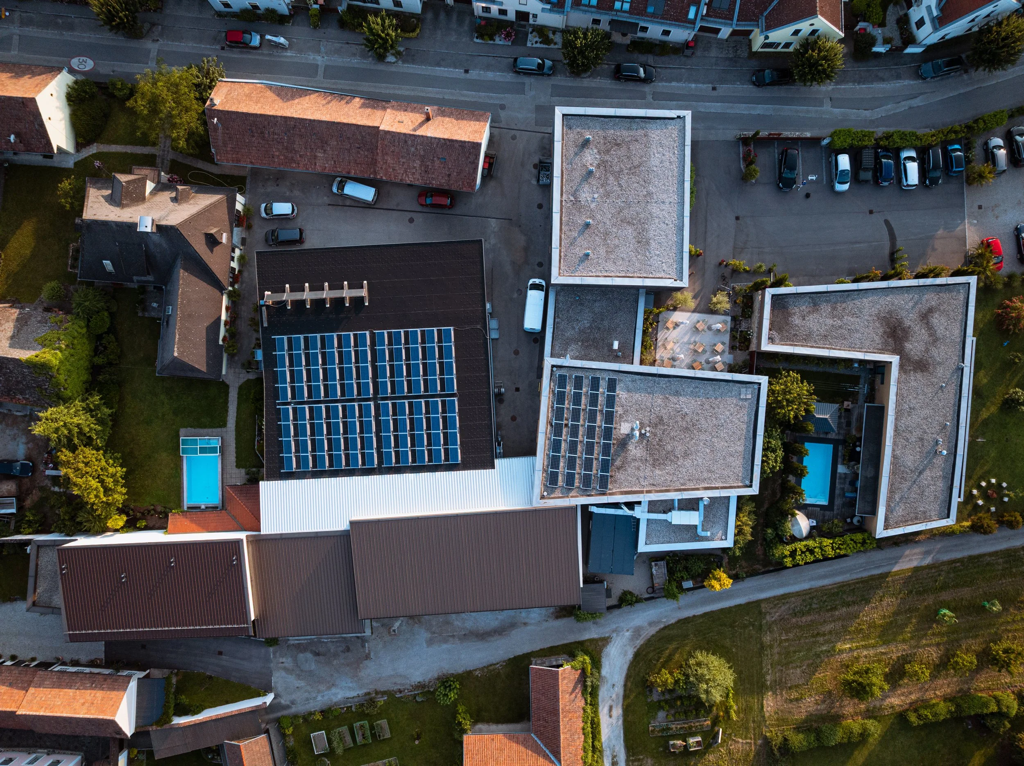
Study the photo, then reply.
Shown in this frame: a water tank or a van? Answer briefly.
van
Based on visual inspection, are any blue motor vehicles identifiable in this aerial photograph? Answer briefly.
Yes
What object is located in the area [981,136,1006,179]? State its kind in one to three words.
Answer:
car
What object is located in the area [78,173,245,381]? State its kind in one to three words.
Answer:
house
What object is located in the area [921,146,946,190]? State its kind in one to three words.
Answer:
car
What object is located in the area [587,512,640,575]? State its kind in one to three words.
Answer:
shed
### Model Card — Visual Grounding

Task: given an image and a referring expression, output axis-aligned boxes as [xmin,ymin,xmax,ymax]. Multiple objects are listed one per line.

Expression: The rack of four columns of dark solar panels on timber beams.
[544,373,620,492]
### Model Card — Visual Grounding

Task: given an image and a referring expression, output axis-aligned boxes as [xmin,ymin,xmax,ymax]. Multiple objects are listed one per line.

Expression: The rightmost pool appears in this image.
[794,435,845,512]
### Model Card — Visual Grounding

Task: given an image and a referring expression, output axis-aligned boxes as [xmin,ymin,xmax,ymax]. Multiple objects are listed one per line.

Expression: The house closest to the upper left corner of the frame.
[0,62,82,164]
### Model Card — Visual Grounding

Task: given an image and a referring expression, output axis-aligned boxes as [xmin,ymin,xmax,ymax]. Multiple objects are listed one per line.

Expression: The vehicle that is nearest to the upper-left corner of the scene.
[224,28,265,51]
